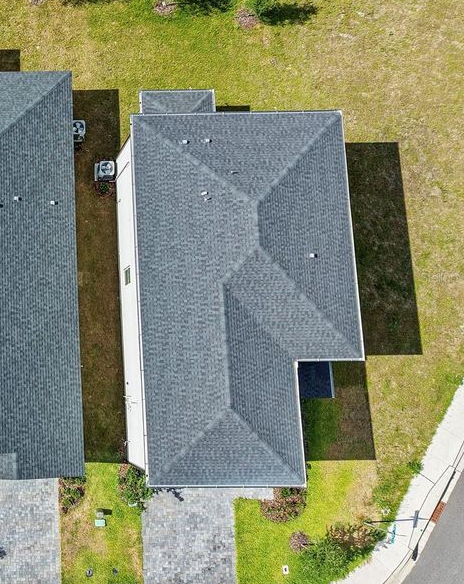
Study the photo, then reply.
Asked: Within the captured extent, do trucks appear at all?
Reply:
No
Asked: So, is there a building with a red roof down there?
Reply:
No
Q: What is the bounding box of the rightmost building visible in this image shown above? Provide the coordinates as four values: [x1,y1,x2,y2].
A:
[117,88,366,489]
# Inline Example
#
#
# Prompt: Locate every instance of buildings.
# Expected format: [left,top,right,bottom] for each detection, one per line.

[0,71,84,481]
[117,88,366,489]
